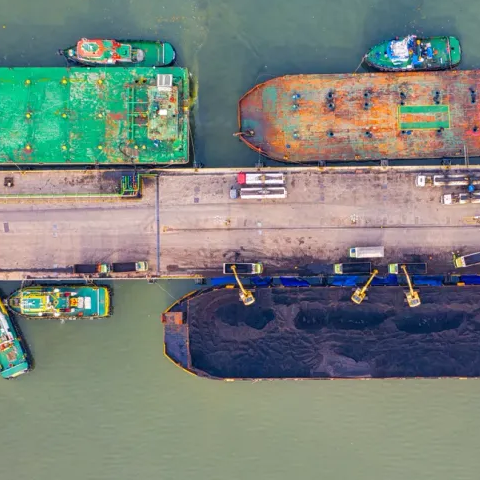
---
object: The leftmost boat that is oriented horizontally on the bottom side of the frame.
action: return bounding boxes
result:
[4,285,116,319]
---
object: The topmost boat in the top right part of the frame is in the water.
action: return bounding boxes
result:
[364,33,464,72]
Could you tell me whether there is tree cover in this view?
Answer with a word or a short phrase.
No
